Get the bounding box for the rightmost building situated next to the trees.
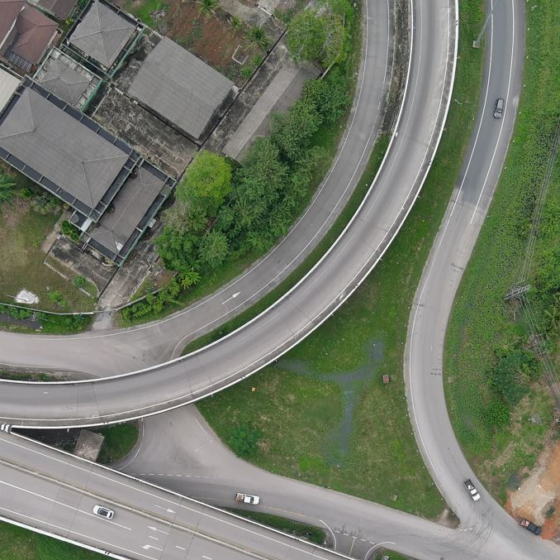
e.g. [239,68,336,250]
[128,38,236,139]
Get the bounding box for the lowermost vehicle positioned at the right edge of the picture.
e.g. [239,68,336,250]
[515,517,543,536]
